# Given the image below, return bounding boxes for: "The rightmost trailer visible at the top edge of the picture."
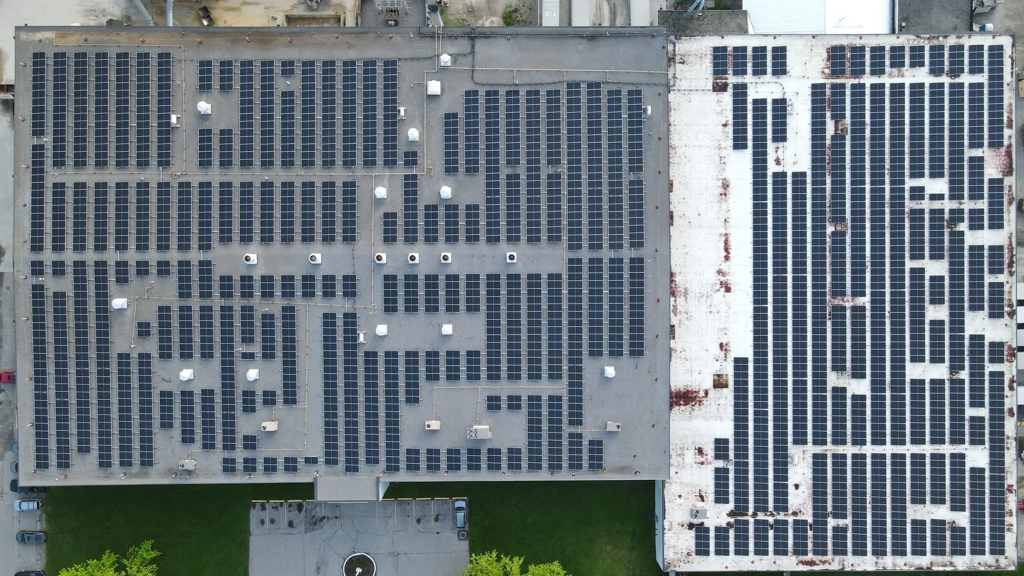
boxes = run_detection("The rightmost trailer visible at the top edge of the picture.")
[626,0,650,26]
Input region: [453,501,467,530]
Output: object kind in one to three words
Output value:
car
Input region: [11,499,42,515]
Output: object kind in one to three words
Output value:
car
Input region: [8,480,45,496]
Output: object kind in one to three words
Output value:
vehicle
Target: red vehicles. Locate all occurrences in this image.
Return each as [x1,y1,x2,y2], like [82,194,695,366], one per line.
[1018,500,1024,513]
[0,371,15,386]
